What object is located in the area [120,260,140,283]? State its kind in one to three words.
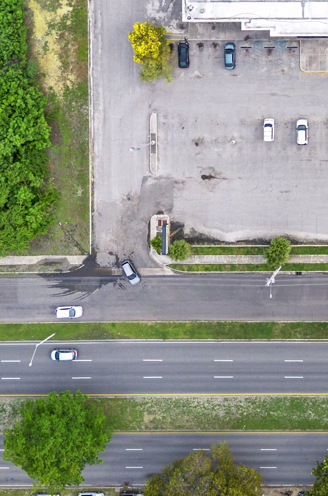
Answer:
car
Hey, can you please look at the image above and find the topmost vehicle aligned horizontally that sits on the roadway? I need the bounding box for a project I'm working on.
[55,306,83,319]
